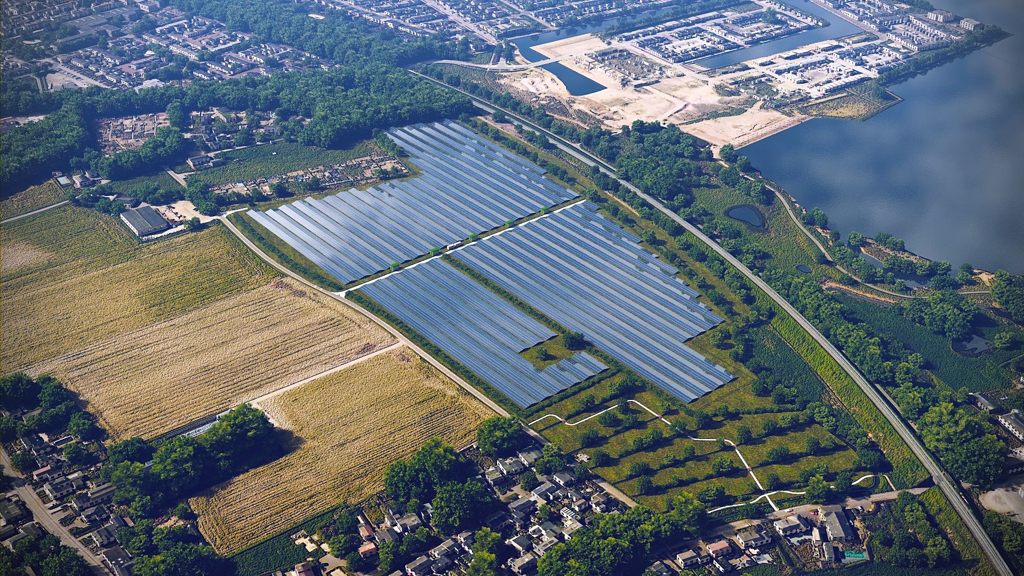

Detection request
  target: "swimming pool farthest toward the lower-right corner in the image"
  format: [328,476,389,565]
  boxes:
[838,548,871,562]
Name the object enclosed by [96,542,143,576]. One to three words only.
house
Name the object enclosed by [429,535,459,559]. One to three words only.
house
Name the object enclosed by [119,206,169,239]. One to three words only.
barn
